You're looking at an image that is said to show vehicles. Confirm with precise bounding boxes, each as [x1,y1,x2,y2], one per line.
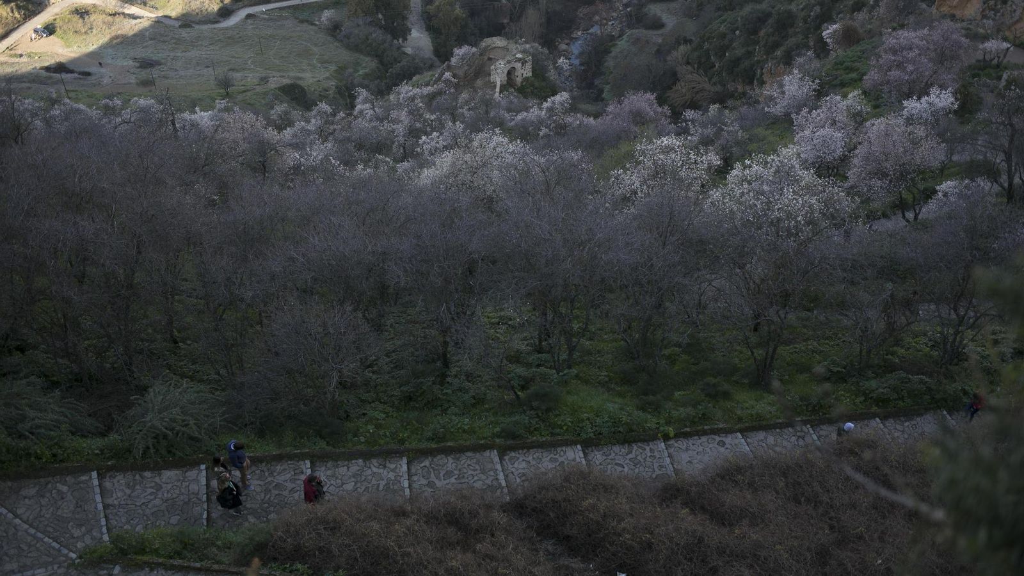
[34,26,48,38]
